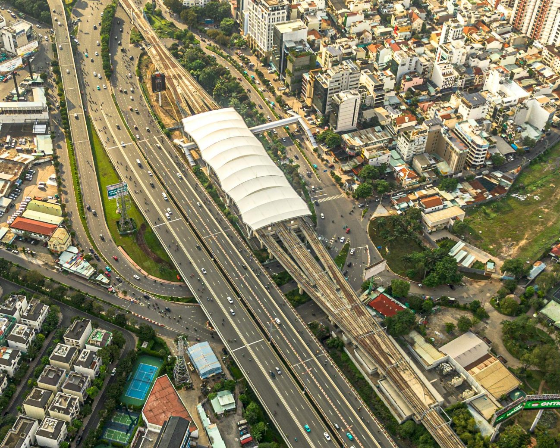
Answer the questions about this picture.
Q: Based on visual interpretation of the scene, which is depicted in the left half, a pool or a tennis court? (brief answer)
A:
tennis court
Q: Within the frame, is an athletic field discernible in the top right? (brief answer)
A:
No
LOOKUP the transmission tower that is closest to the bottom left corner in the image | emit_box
[170,342,194,391]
